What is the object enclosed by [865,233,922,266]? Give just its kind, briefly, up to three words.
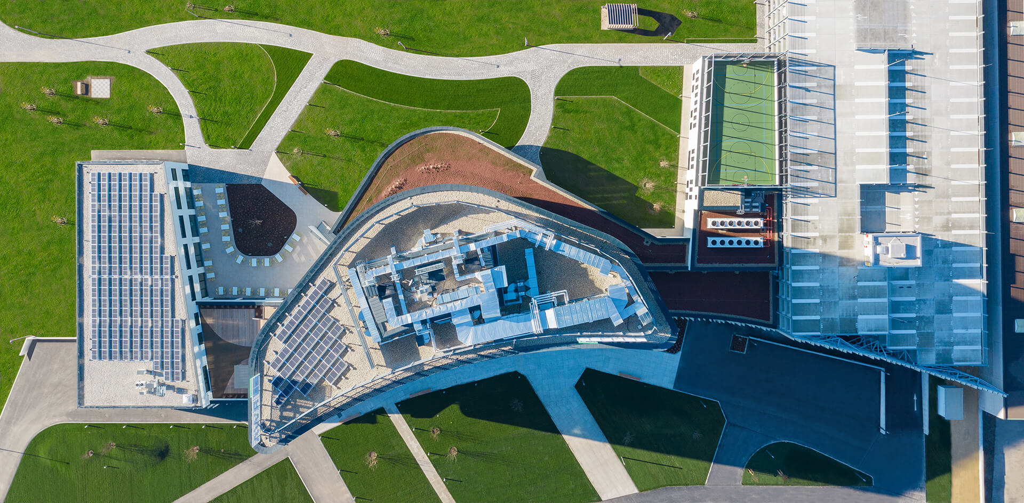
house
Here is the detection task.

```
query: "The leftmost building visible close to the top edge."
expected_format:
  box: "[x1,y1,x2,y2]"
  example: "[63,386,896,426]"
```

[601,3,638,30]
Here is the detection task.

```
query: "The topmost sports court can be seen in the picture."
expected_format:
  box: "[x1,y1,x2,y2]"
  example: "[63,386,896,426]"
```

[708,61,774,184]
